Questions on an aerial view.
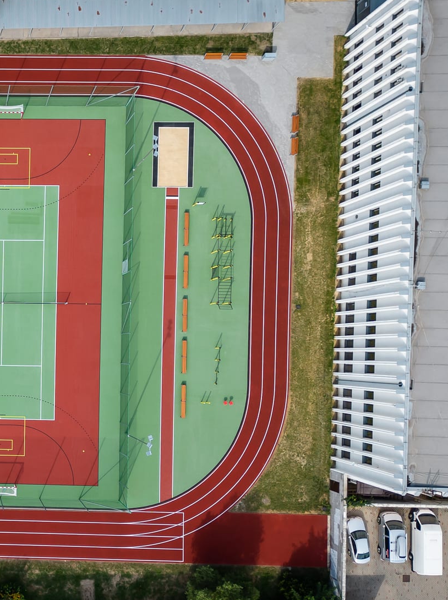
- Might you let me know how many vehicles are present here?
three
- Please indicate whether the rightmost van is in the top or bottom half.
bottom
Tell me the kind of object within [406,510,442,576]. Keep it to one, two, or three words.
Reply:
van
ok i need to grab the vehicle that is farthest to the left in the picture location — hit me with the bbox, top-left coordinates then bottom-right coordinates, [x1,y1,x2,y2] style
[347,518,368,563]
